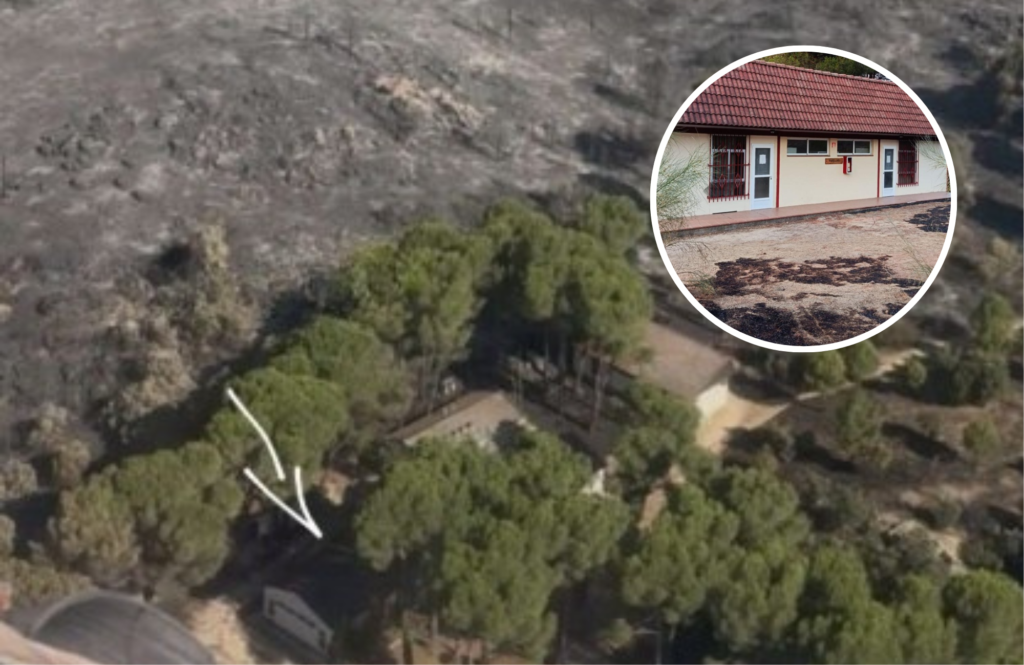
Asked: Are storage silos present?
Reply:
No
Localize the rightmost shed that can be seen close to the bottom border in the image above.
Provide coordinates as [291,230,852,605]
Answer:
[262,576,342,654]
